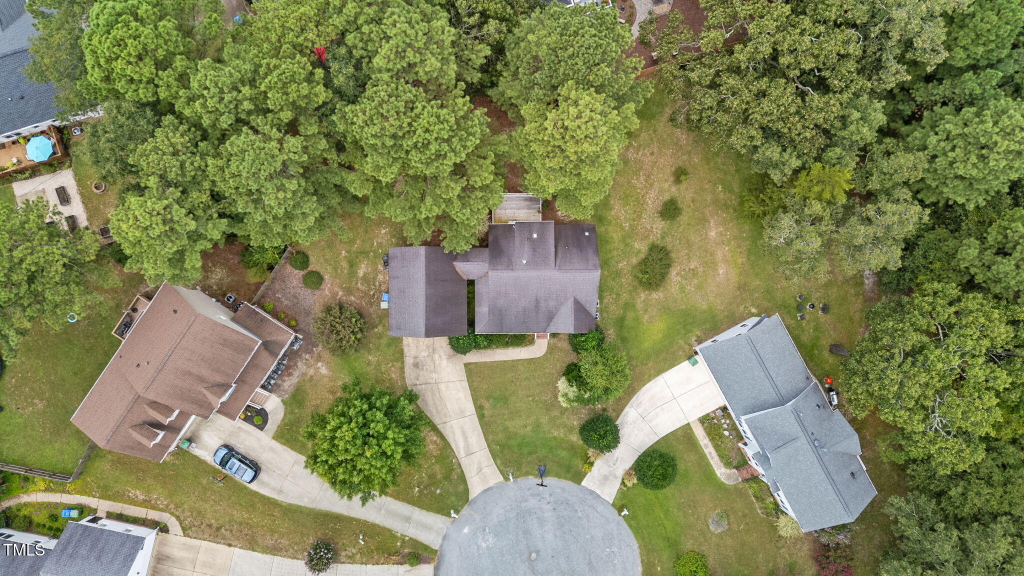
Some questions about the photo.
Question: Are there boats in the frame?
No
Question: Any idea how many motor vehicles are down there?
one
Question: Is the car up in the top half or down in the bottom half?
bottom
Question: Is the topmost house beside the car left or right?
left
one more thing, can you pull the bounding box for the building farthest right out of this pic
[695,311,878,532]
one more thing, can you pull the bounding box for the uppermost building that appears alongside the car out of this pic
[75,283,297,463]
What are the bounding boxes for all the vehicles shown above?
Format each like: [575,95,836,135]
[210,443,265,488]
